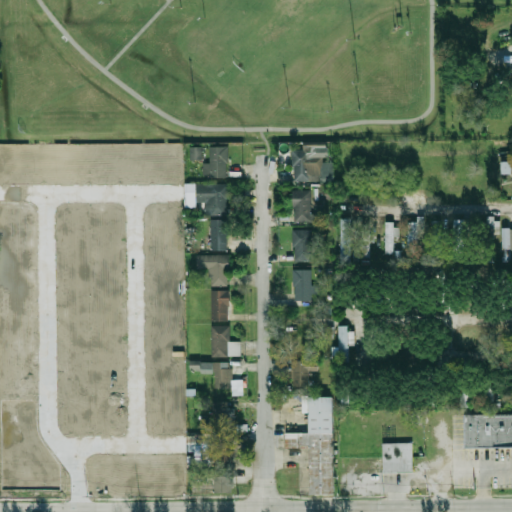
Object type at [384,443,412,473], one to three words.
building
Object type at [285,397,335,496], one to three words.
building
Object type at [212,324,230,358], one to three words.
house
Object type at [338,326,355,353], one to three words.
house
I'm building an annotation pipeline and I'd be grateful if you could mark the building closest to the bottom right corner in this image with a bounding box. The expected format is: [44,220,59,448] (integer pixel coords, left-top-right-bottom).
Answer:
[464,415,512,449]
